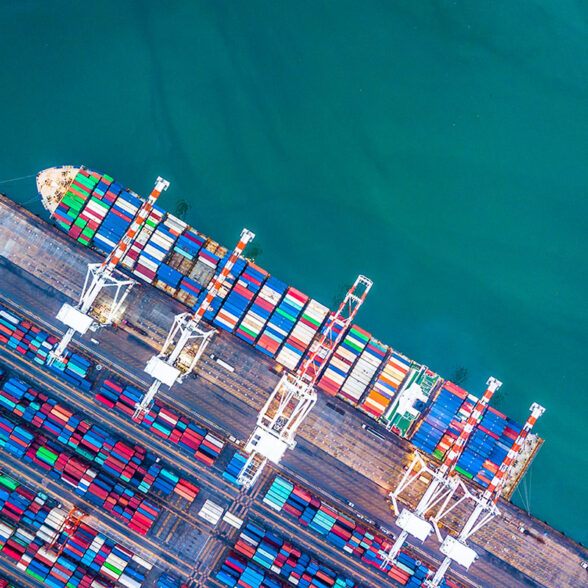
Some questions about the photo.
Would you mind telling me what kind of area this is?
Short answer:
port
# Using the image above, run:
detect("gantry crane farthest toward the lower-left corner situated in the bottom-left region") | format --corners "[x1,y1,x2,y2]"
[49,501,96,556]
